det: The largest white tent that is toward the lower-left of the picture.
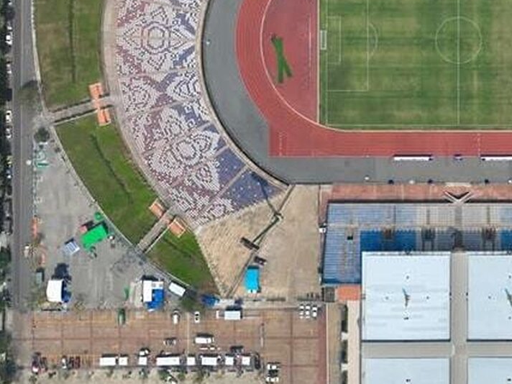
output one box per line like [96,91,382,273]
[48,276,72,301]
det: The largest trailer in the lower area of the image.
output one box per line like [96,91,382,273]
[137,276,162,308]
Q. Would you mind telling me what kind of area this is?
sports ground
